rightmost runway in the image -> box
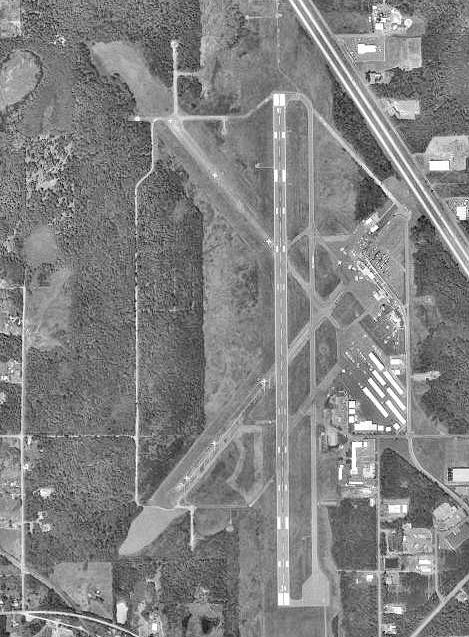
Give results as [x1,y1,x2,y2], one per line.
[273,94,289,606]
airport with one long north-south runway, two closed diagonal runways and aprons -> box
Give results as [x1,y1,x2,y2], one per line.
[144,91,406,608]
